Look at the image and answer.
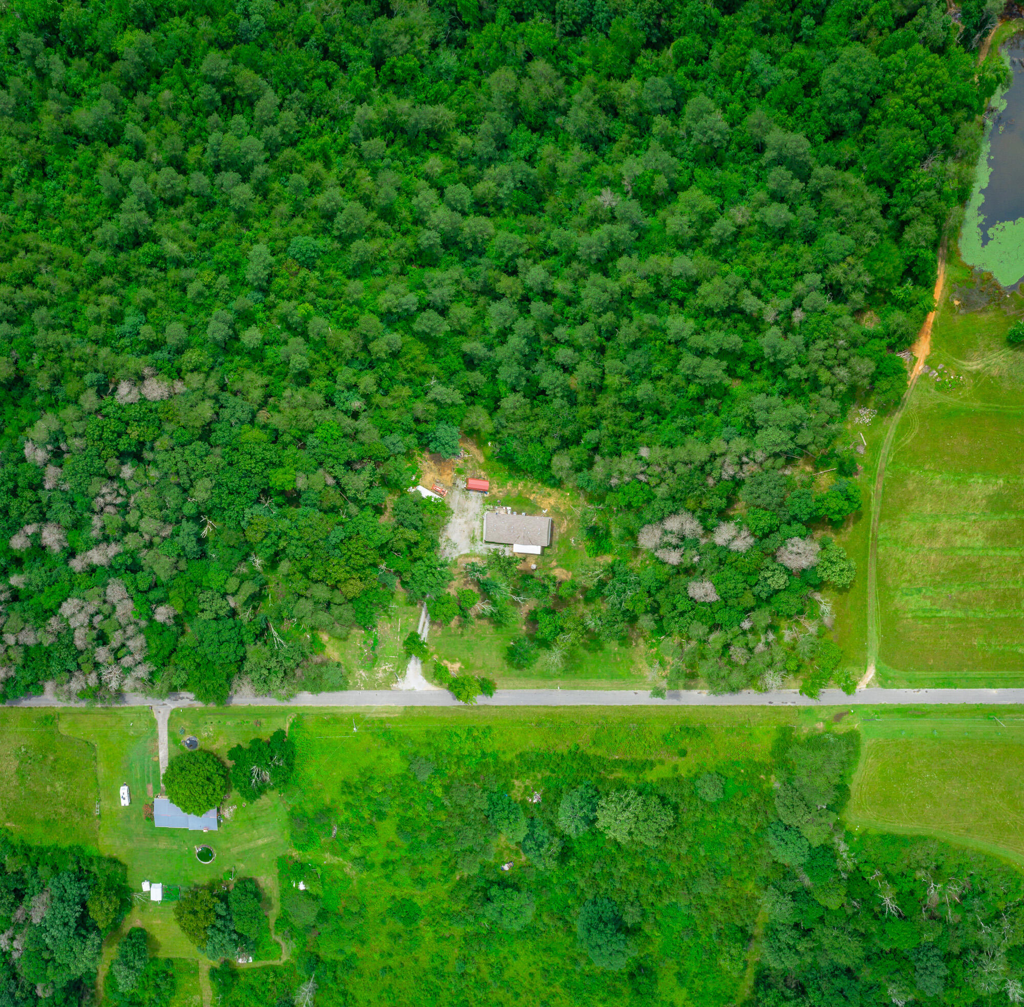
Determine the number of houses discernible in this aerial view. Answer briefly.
two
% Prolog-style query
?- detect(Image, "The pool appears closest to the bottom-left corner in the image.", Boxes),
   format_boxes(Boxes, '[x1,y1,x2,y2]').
[193,846,215,865]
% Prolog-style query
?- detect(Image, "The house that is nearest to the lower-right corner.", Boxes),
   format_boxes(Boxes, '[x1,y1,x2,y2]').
[483,513,553,553]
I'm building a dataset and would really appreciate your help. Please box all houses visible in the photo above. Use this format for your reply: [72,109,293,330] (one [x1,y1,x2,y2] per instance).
[154,792,220,832]
[483,513,553,553]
